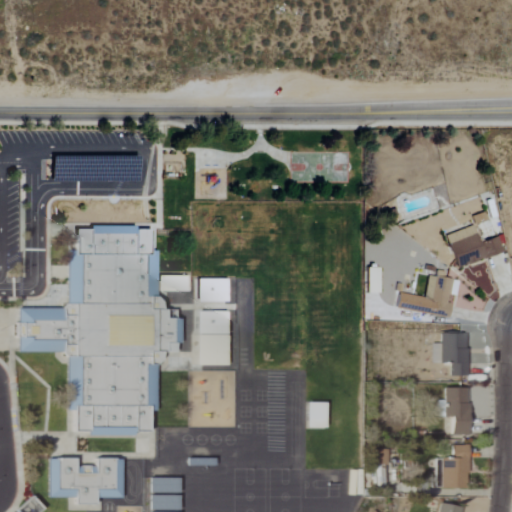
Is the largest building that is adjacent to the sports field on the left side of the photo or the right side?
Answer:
left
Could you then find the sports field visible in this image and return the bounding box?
[194,201,362,469]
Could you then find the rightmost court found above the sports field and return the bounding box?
[291,152,353,183]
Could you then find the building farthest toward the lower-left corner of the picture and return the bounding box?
[50,458,124,504]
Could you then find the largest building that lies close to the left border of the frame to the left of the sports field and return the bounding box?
[20,225,183,436]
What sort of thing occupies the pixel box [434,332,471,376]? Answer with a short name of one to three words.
house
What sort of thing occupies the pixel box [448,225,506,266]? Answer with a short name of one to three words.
house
